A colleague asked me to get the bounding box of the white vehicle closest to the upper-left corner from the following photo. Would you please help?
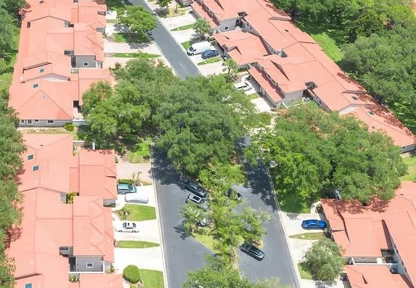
[189,40,211,56]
